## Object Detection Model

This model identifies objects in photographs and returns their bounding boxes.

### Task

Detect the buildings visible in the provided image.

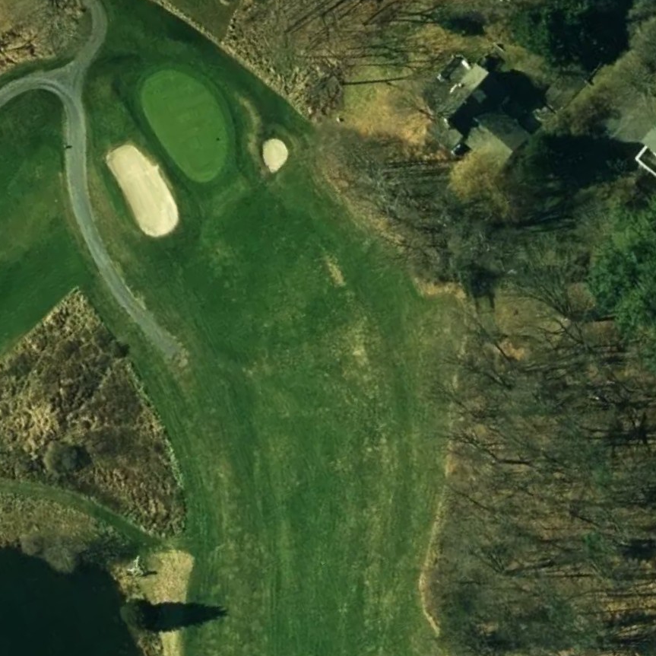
[633,130,656,176]
[436,55,532,172]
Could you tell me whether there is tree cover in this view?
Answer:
Yes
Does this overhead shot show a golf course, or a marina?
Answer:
golf course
